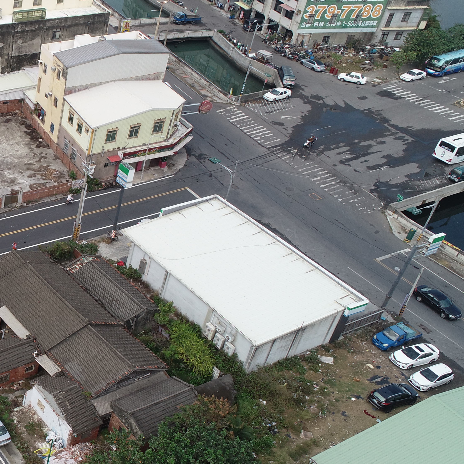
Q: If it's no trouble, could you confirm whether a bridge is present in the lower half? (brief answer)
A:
No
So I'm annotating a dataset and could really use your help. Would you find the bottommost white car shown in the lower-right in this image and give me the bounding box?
[407,363,460,392]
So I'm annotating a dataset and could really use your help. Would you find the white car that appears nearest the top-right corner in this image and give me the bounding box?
[399,68,431,82]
